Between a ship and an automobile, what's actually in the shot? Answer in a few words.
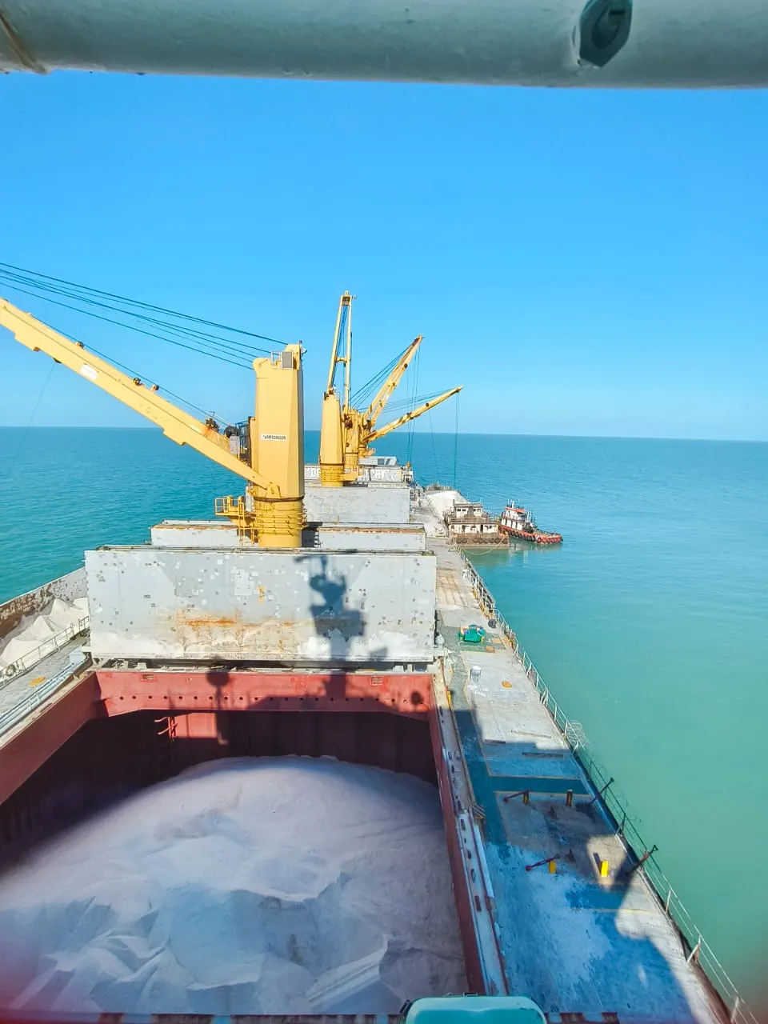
ship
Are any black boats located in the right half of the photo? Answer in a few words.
No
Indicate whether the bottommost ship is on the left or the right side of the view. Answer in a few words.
left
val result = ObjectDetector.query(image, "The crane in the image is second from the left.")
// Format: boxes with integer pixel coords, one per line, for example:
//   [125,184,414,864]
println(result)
[318,289,364,485]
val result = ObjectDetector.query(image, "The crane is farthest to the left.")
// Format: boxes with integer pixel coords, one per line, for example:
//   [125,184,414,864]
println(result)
[0,244,310,669]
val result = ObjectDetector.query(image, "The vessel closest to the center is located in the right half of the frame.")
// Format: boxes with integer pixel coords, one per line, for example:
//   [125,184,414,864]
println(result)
[417,477,510,550]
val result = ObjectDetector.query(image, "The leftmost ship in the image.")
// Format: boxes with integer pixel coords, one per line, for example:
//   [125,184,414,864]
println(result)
[0,567,85,634]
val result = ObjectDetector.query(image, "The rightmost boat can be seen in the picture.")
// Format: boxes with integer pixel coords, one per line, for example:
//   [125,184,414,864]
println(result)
[498,494,565,544]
